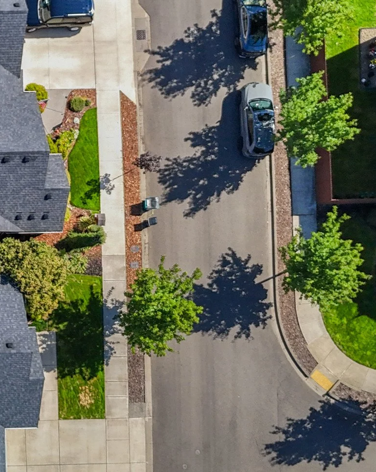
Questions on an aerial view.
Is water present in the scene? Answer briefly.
No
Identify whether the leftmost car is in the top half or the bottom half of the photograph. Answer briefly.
top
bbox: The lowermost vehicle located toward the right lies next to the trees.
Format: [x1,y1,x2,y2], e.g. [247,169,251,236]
[235,82,276,160]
